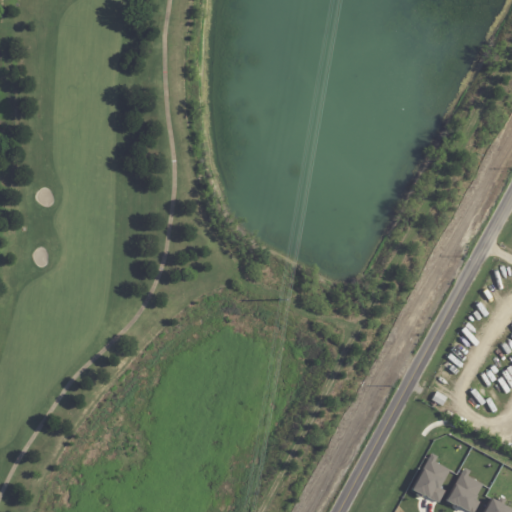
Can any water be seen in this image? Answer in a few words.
Yes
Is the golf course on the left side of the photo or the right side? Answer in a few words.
left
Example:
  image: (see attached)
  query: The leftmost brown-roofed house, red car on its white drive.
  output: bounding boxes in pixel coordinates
[412,454,452,504]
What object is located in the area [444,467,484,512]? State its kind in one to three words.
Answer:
house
